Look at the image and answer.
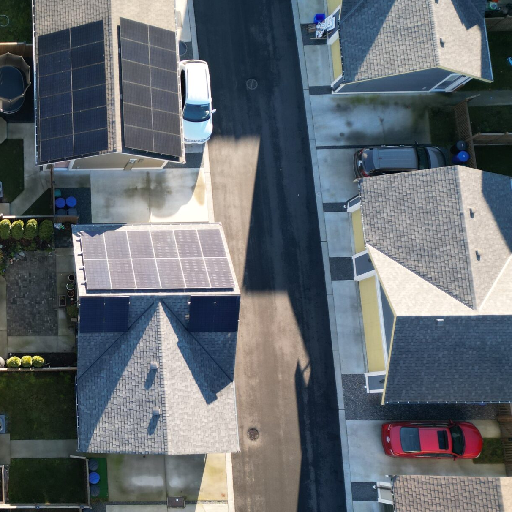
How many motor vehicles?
three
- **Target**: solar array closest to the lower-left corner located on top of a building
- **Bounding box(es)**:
[79,297,131,333]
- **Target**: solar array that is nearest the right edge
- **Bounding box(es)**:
[188,296,241,331]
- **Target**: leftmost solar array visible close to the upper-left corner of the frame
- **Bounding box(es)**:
[38,20,108,163]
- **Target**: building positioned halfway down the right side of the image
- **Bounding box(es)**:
[353,166,512,407]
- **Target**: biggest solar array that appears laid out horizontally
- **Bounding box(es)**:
[73,229,234,289]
